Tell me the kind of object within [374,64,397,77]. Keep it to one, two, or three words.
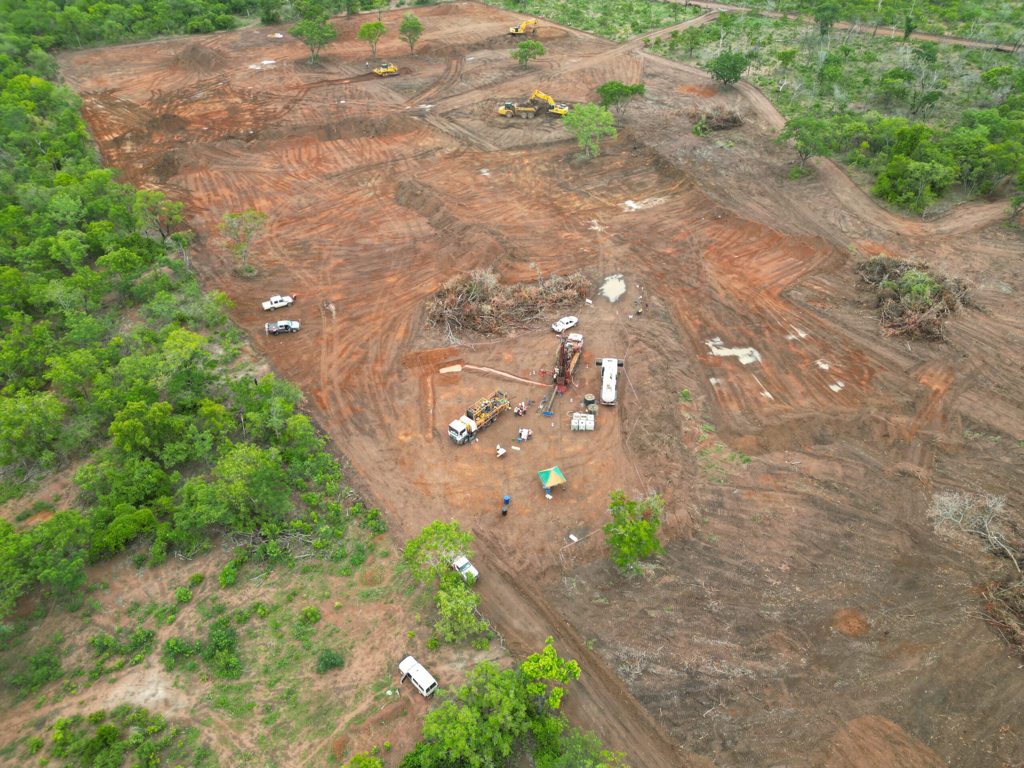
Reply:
vehicle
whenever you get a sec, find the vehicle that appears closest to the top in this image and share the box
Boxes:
[508,15,538,35]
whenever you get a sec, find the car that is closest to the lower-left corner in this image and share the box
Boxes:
[394,653,437,701]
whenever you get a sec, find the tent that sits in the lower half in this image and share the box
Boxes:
[537,466,566,496]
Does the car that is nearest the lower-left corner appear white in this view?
Yes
